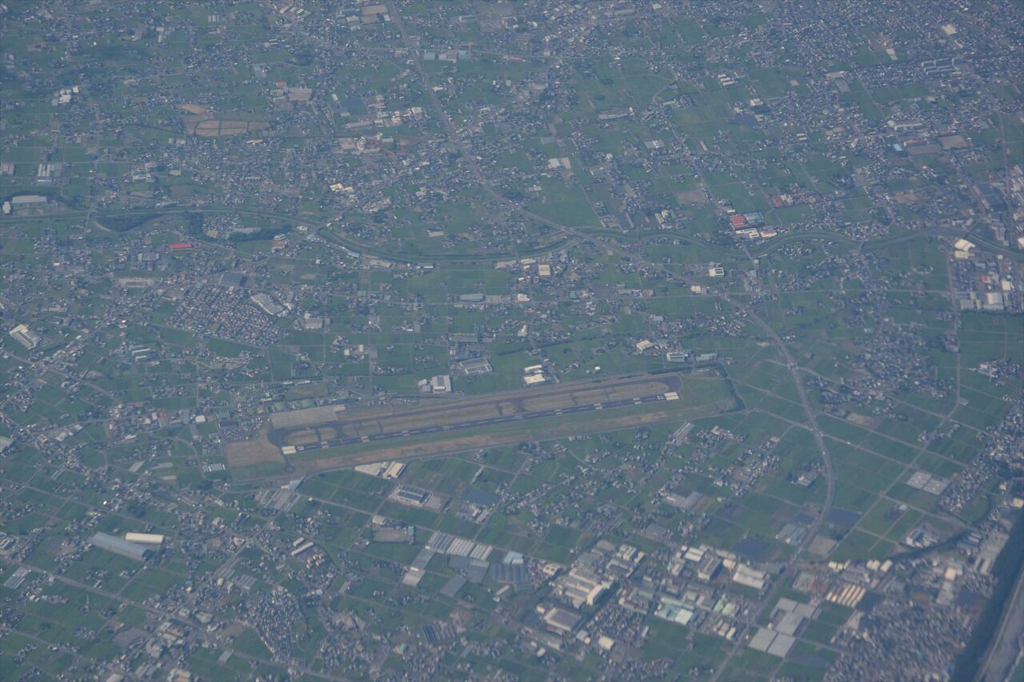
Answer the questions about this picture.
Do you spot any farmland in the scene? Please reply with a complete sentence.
Yes, farmland can be seen from above here.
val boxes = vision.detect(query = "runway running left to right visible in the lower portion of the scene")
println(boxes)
[279,390,682,454]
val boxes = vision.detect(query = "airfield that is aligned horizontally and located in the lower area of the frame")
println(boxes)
[225,366,744,480]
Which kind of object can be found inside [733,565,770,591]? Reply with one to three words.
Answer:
building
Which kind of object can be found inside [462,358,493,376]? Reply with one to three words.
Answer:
building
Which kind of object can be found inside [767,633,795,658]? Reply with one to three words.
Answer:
greenhouse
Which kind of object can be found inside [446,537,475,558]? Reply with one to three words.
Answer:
greenhouse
